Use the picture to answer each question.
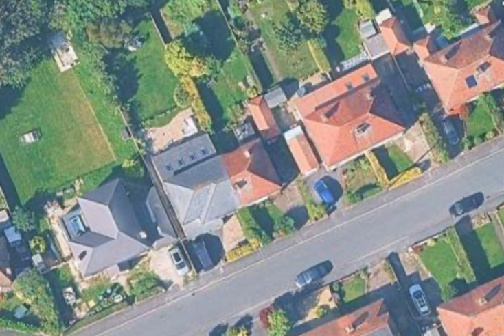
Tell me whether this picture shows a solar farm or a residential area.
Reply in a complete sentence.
This looks like a residential area.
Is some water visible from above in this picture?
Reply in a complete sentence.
No, the scene doesn't show any water.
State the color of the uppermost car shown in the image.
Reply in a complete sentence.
The uppermost car looks blue in the image.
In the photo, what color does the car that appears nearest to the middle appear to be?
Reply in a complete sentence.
The color of the car that appears nearest to the middle is blue.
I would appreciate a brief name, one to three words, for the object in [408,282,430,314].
car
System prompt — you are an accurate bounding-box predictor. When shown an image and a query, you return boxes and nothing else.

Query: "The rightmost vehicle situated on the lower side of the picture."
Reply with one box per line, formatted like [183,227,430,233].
[448,191,485,218]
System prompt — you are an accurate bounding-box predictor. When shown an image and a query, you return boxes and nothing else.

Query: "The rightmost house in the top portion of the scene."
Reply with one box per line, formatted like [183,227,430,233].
[413,5,504,114]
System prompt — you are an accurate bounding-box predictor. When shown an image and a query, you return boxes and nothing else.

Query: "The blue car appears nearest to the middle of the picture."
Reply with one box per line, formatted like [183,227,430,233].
[311,176,335,207]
